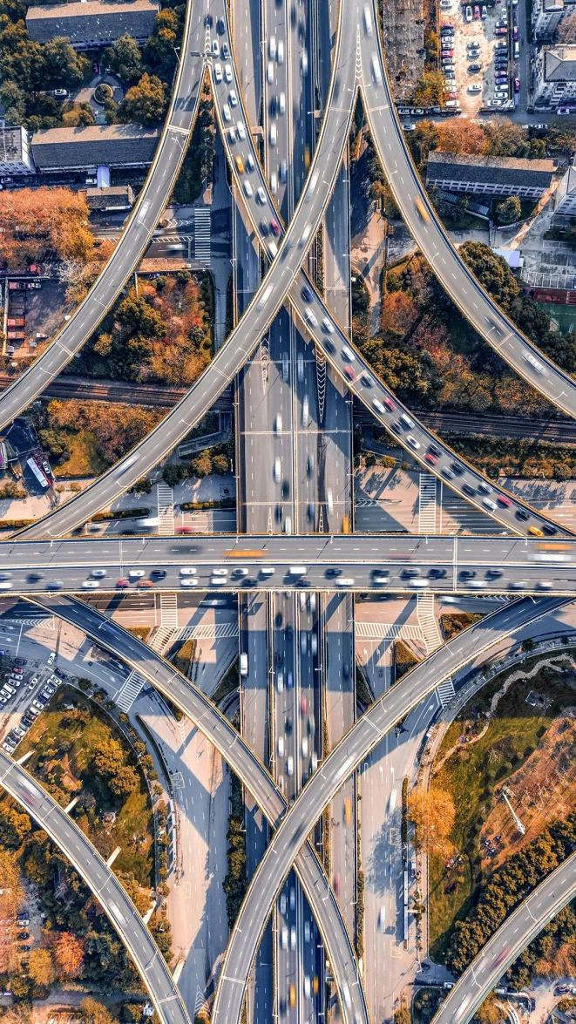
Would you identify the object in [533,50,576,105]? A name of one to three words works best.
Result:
building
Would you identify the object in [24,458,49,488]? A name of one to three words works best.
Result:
bus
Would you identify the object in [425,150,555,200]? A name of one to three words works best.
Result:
building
